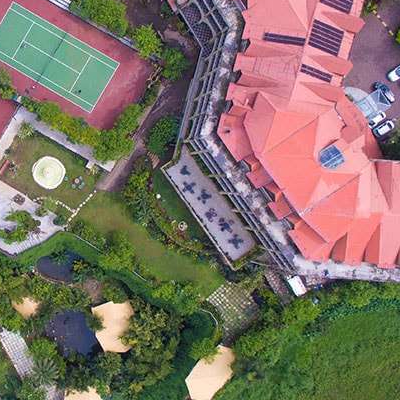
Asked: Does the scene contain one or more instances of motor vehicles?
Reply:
Yes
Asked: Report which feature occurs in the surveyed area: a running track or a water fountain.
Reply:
water fountain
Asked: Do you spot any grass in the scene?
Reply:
Yes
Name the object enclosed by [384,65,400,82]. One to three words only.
car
